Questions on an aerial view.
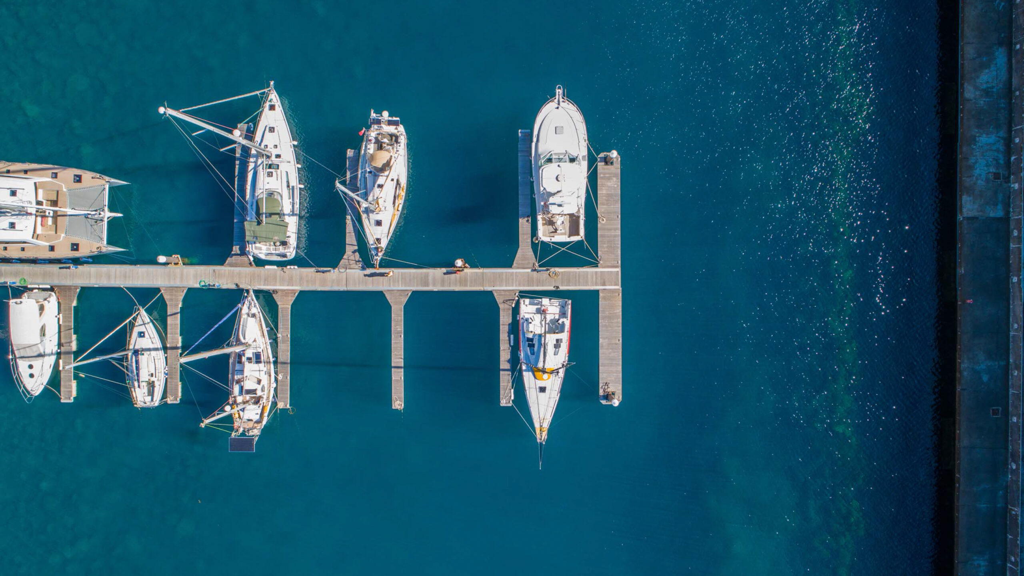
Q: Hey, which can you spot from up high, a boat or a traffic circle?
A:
boat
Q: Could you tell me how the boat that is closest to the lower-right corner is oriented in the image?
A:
up and down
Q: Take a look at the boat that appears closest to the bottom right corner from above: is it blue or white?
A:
white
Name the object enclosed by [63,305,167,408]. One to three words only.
boat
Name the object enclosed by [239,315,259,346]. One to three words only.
boat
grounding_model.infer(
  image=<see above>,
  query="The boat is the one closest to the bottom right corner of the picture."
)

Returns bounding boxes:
[518,298,576,469]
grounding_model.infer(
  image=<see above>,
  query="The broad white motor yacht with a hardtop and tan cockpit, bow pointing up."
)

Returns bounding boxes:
[531,82,589,243]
